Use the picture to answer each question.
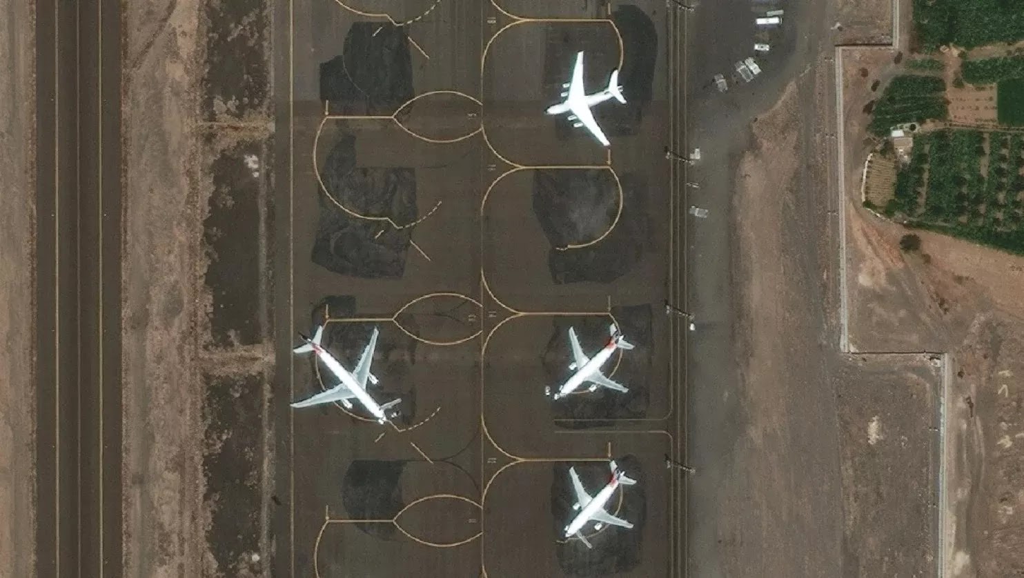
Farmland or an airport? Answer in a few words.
airport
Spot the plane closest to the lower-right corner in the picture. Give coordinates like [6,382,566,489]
[564,462,634,537]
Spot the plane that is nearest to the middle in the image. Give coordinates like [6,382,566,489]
[558,325,633,396]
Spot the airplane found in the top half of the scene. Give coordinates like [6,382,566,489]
[545,51,626,145]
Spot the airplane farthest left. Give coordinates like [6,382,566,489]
[290,326,385,418]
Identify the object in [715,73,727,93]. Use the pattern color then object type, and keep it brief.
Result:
gray vehicle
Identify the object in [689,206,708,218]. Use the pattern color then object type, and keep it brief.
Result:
gray vehicle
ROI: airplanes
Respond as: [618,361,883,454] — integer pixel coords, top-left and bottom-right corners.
[545,51,626,145]
[290,326,385,418]
[558,325,633,396]
[564,462,634,537]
